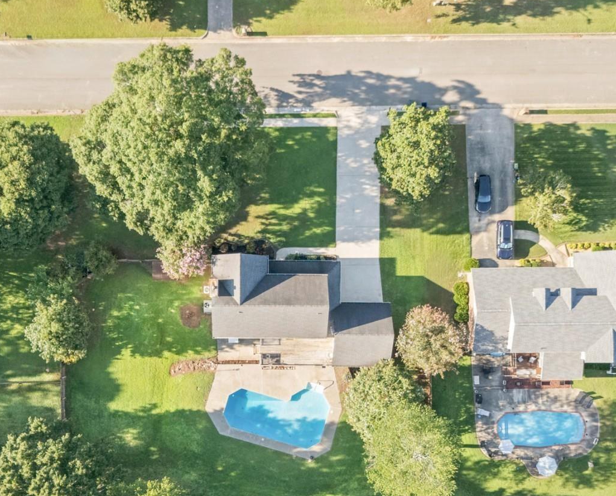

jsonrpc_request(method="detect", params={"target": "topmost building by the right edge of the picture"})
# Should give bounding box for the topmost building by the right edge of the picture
[468,250,616,380]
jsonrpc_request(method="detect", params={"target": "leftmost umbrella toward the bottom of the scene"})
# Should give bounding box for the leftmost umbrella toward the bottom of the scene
[498,439,513,453]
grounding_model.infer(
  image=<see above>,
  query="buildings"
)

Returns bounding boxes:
[209,253,394,366]
[468,250,616,380]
